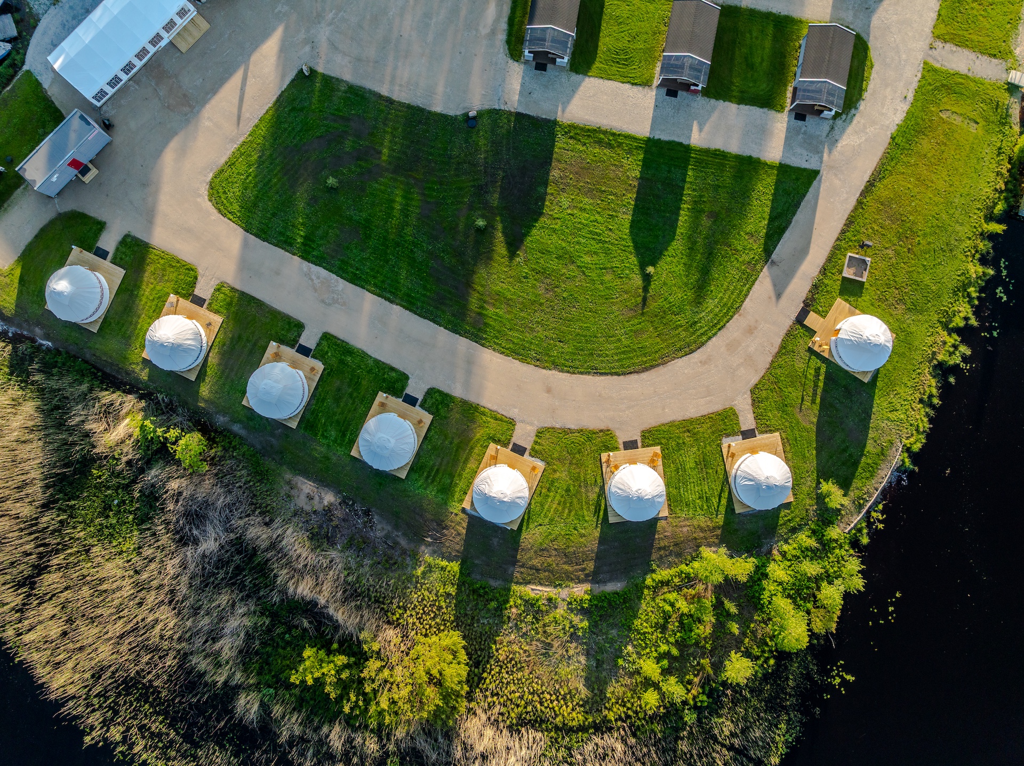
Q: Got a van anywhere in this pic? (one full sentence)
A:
No, the picture doesn't show any van.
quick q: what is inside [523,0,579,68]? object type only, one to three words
building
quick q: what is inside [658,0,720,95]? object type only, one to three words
building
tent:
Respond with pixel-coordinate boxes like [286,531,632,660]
[45,0,197,107]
